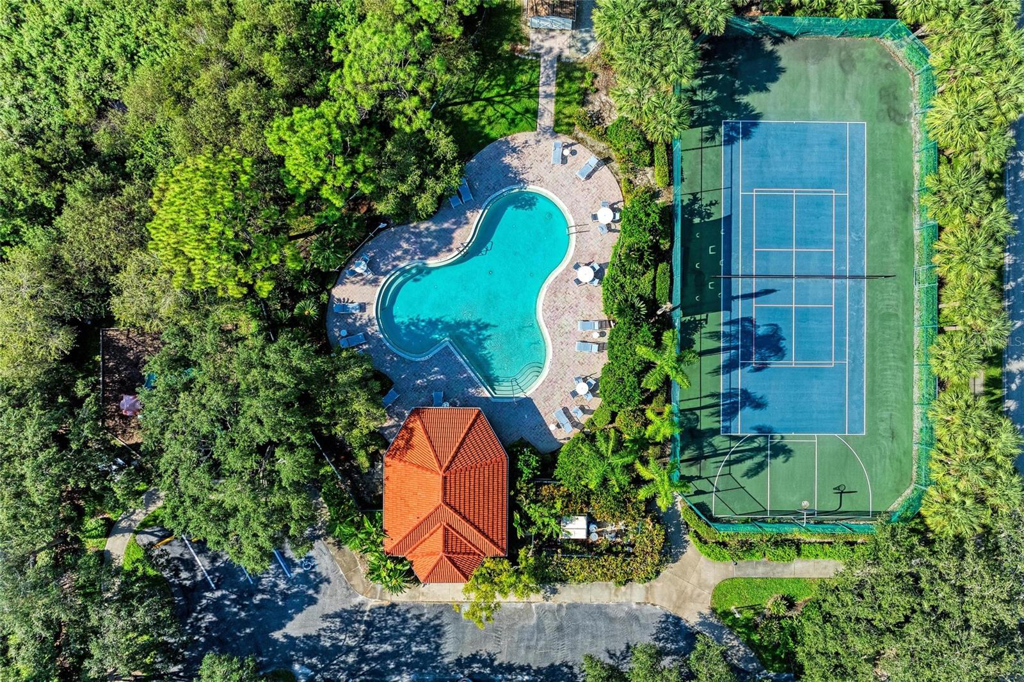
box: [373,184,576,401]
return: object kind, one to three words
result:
swimming pool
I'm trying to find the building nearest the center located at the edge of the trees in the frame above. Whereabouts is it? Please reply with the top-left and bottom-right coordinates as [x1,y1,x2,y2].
[382,406,509,586]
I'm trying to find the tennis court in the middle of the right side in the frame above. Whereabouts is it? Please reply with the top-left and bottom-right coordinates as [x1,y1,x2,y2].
[671,38,912,518]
